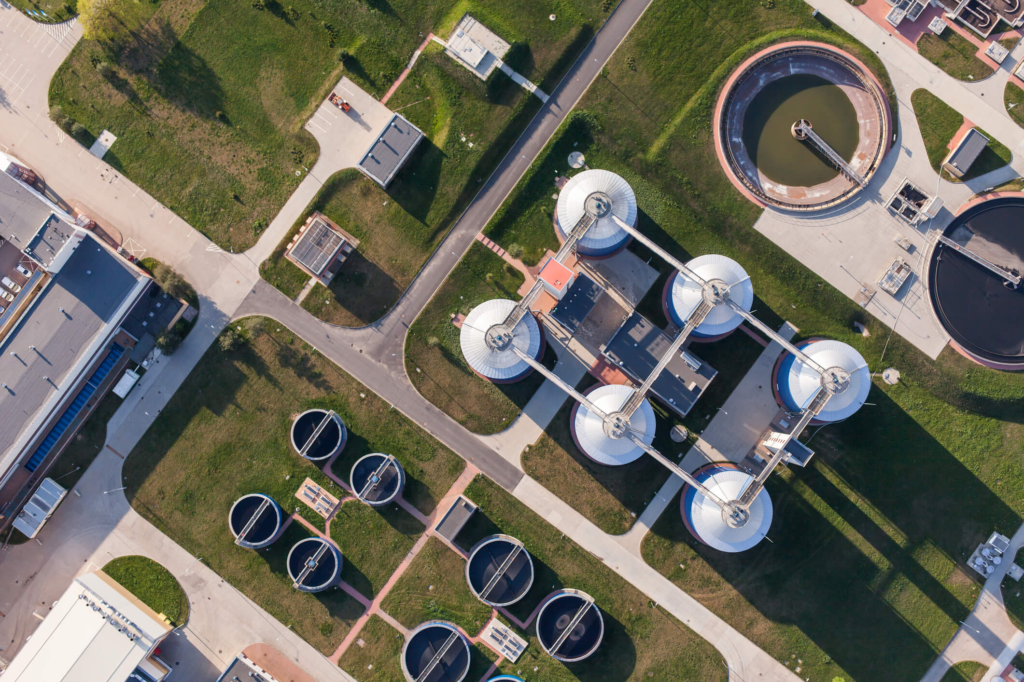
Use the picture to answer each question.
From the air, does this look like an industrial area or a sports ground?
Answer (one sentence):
This image shows an industrial area.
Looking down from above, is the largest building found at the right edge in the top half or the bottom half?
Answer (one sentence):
The top half of the photo is where the largest building found at the right edge is.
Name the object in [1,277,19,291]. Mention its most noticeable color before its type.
white car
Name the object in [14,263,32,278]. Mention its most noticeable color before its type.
white car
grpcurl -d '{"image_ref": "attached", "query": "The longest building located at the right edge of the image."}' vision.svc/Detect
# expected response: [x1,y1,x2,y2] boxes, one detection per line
[941,127,989,178]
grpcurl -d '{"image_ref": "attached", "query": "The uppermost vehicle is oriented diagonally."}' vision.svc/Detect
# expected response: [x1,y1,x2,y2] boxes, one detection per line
[324,89,352,111]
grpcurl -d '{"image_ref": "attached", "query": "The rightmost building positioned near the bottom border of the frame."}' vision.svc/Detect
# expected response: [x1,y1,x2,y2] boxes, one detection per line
[217,651,282,682]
